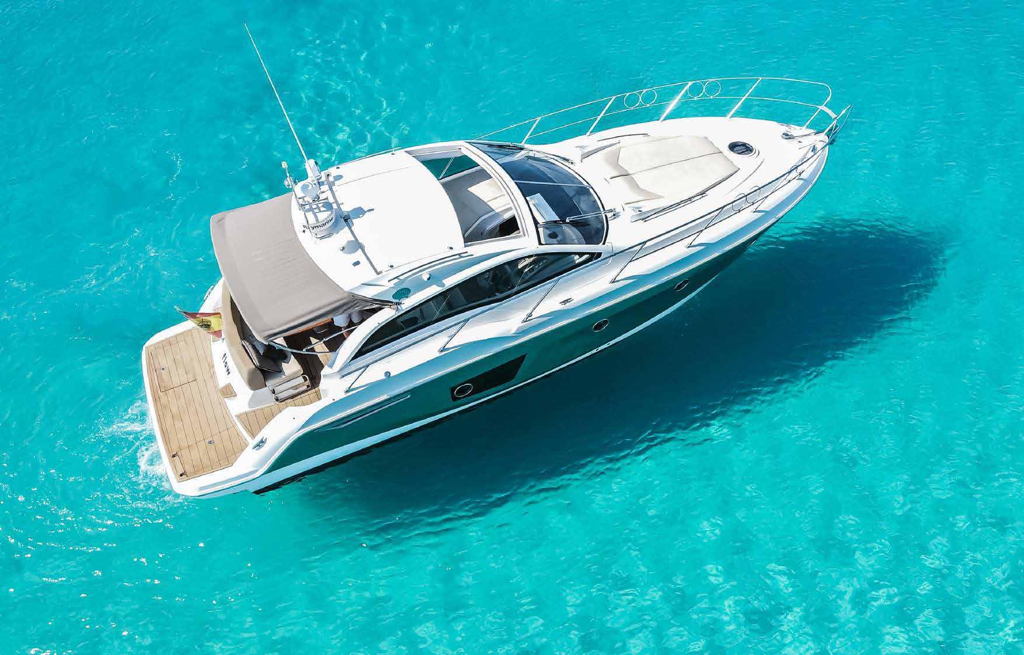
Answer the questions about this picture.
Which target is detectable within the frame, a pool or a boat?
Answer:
boat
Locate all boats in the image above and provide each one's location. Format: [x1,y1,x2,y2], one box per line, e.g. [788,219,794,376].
[142,24,856,502]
